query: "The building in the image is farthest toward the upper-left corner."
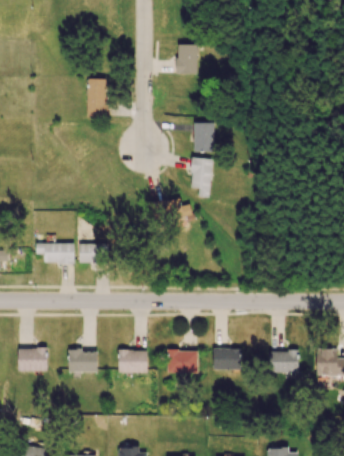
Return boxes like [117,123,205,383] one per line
[88,78,107,117]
